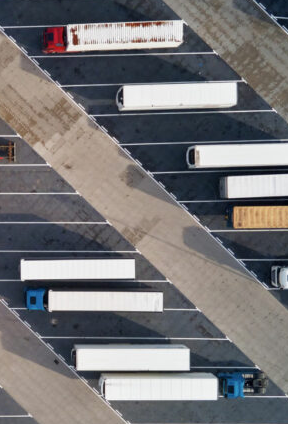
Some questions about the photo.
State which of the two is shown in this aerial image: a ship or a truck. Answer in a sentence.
The image shows a truck.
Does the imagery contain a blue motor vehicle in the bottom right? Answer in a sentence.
Yes, looking in the bottom right, one can make out a blue motor vehicle.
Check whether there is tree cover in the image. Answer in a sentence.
No, no tree cover is visible.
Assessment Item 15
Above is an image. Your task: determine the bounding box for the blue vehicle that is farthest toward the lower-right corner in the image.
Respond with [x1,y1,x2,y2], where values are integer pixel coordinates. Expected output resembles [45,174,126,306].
[219,372,269,399]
